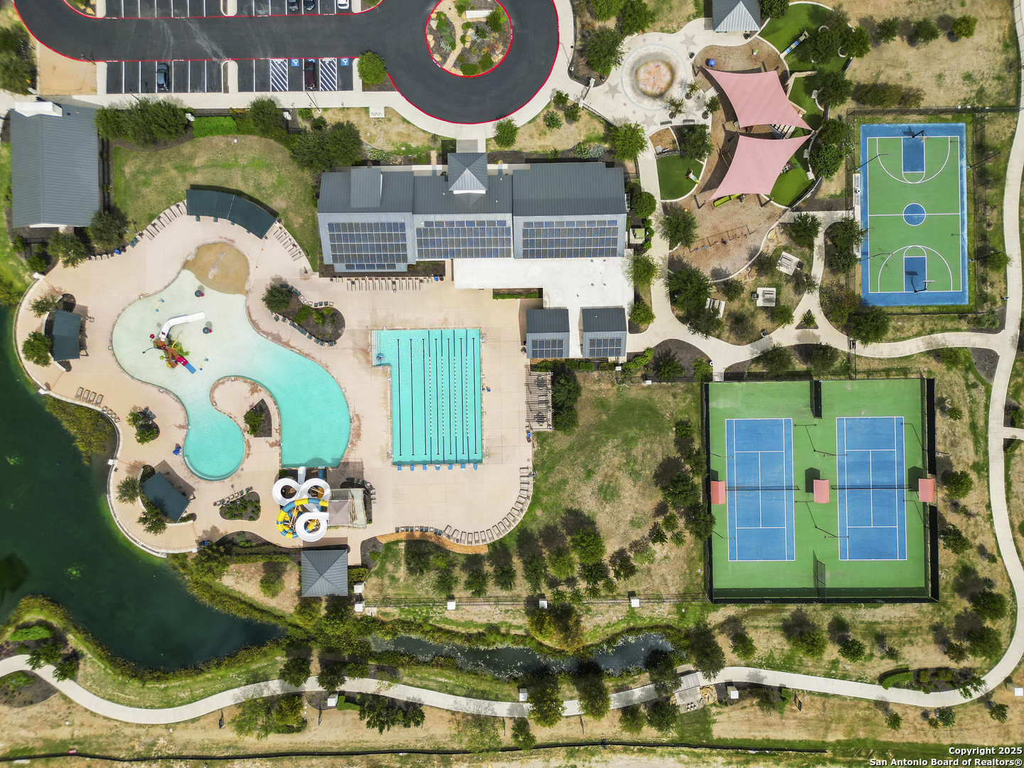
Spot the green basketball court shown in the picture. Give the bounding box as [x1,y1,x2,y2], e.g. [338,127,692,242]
[861,123,968,307]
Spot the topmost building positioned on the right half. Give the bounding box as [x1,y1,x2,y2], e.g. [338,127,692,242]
[709,0,761,39]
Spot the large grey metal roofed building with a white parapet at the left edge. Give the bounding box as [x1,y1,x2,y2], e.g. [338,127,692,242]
[10,100,103,230]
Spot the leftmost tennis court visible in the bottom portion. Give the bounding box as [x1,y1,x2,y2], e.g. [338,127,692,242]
[725,417,802,562]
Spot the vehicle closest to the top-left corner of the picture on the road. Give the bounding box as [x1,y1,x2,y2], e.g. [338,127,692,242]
[156,62,170,91]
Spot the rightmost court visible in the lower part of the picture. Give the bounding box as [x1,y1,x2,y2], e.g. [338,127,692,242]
[834,416,914,561]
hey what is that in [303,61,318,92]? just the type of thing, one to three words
car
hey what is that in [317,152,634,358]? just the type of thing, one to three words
building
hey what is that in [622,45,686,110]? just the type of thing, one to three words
fountain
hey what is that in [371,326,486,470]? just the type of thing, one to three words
swimming pool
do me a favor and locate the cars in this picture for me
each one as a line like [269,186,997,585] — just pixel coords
[303,0,315,9]
[337,0,349,8]
[287,0,300,10]
[156,62,170,91]
[303,61,318,92]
